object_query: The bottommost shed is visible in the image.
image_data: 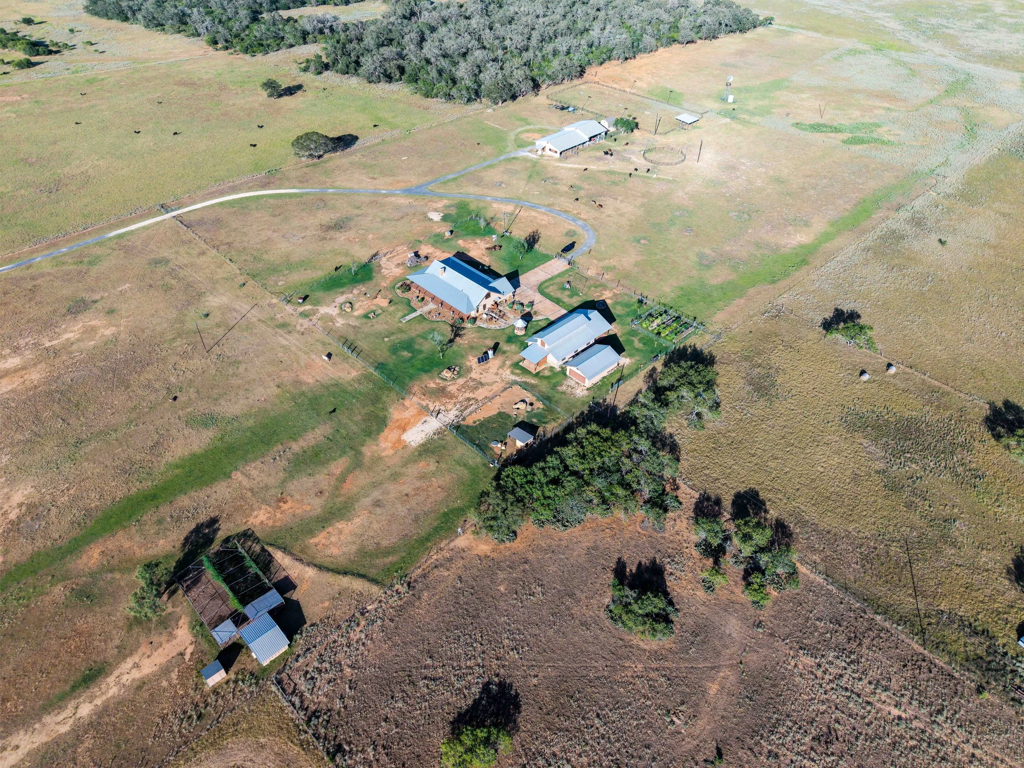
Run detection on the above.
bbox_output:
[200,660,227,686]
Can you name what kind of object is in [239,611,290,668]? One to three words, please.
shed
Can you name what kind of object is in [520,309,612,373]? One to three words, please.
building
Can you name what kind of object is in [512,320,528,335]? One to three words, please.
gazebo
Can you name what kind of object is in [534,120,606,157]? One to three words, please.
barn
